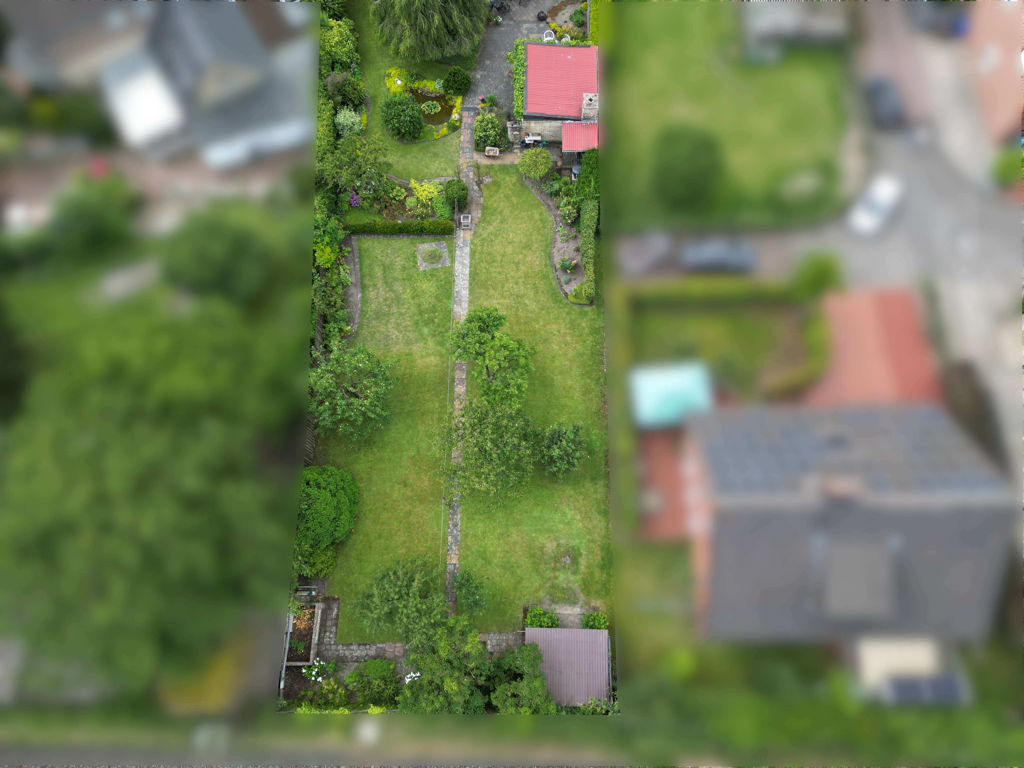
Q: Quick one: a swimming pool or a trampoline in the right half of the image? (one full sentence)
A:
You can see a swimming pool in the right half of the image.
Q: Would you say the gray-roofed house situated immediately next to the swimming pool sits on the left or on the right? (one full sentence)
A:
The gray-roofed house situated immediately next to the swimming pool sits on the right side.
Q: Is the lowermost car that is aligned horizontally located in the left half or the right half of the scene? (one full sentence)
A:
The lowermost car that is aligned horizontally appears in the right half of the scene.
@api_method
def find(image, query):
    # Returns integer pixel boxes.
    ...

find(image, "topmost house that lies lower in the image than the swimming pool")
[681,412,1024,643]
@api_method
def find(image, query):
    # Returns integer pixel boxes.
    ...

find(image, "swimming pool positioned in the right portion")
[631,359,719,432]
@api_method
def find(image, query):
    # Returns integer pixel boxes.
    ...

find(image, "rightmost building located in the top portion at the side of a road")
[936,0,1024,179]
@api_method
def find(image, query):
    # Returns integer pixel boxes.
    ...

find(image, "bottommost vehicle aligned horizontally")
[681,241,751,275]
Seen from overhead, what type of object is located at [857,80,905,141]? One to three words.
car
